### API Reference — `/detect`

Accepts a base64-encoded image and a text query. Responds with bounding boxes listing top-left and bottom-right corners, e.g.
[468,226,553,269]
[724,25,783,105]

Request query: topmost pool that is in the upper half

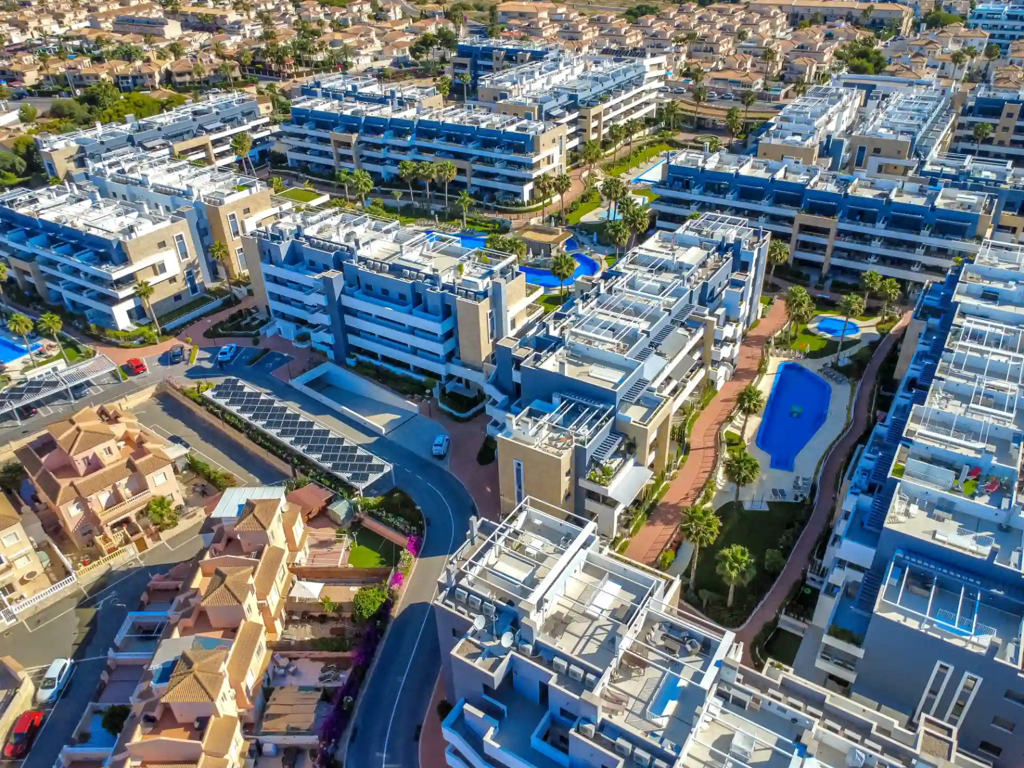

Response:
[632,152,682,183]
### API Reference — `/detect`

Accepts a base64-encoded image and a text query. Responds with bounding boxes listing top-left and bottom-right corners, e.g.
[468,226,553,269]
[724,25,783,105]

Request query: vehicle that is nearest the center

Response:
[429,433,452,456]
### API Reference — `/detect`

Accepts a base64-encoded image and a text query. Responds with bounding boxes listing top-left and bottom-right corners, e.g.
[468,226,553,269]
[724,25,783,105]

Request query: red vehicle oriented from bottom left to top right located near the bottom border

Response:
[0,708,43,759]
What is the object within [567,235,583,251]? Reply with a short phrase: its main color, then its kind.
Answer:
blue swimming pool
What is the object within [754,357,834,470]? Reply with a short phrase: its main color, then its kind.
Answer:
blue swimming pool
